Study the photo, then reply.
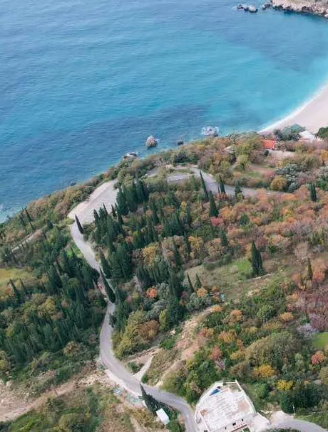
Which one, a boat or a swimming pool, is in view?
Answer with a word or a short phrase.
swimming pool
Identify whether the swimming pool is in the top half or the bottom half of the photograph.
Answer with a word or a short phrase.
bottom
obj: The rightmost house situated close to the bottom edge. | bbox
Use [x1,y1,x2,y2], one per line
[199,388,255,432]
